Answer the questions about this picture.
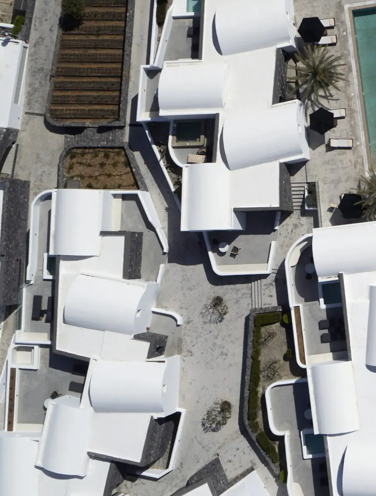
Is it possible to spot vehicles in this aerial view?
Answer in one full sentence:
No, I can't see a single vehicle in this photo.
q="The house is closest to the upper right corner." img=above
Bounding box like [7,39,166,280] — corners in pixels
[156,0,316,231]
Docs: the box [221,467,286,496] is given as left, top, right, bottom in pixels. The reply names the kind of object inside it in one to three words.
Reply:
house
